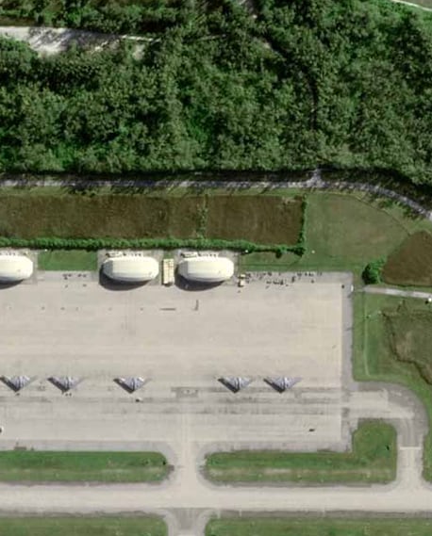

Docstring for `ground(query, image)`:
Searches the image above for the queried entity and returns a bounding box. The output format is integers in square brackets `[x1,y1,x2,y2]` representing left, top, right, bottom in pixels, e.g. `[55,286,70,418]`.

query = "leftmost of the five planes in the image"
[1,376,35,391]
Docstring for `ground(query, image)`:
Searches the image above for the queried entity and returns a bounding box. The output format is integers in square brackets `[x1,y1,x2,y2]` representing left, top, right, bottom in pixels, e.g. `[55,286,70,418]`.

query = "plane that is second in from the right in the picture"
[220,376,254,392]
